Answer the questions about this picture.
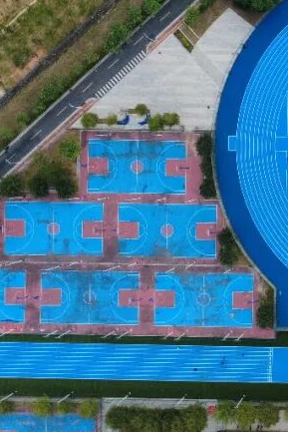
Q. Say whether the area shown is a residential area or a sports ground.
sports ground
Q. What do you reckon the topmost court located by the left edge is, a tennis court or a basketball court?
basketball court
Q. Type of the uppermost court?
basketball court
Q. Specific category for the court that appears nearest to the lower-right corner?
basketball court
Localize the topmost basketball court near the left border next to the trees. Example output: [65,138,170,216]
[4,203,103,255]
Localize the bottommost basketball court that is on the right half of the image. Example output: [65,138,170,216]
[155,272,253,328]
